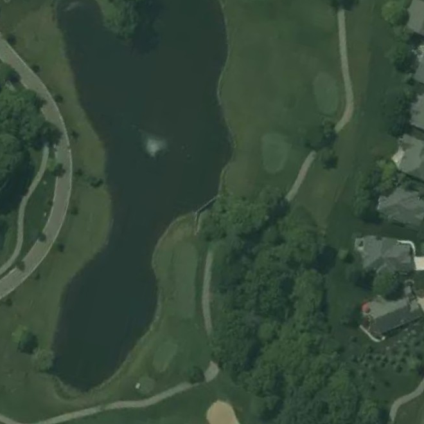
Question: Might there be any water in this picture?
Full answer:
Yes, there is water in the image.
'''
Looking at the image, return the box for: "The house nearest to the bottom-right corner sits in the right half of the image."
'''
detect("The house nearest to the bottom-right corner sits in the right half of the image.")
[364,290,424,340]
